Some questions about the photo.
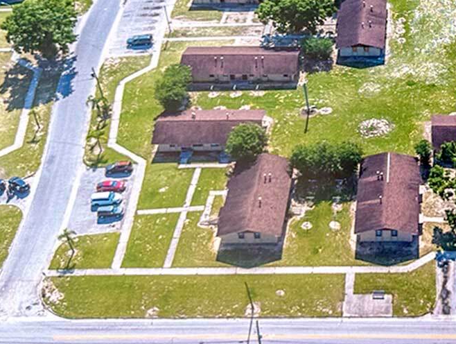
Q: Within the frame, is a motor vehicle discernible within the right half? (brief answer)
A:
No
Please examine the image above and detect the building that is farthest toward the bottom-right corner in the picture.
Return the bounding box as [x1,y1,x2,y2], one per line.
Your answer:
[351,153,422,244]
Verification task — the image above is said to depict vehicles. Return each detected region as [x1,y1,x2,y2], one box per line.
[93,204,127,220]
[89,190,123,207]
[0,180,10,193]
[8,178,35,194]
[104,160,135,175]
[127,35,153,47]
[95,179,127,192]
